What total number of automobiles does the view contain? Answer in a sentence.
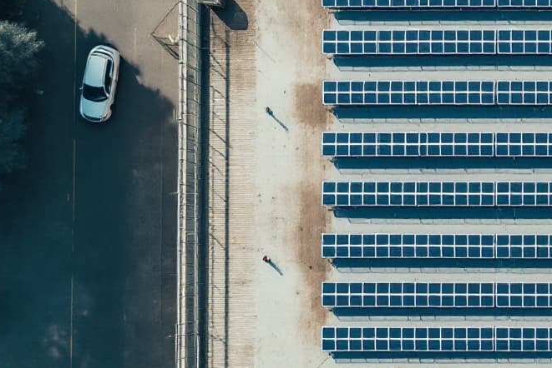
In total, there is 1 automobile in the scene.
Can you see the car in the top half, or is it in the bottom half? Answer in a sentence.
The car is in the top half of the image.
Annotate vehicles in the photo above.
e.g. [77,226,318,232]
[79,46,123,123]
